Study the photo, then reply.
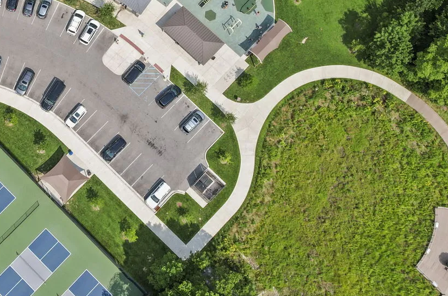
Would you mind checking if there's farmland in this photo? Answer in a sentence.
No, the picture contains no farmland.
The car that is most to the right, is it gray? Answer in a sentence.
Yes, gray is the color of the car that is most to the right.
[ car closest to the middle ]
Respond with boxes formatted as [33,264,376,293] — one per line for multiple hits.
[181,108,206,135]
